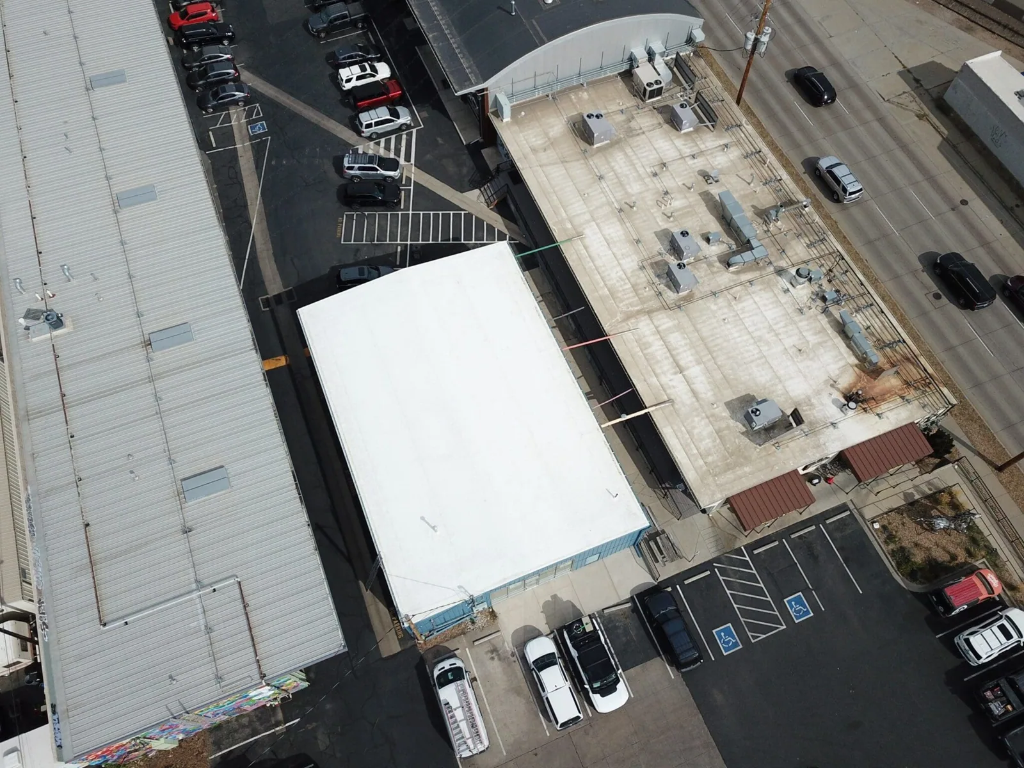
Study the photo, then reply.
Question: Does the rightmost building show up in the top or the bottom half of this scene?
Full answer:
The top half of the photo is where the rightmost building is.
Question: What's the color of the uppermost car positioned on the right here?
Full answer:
In this view, the uppermost car positioned on the right is black.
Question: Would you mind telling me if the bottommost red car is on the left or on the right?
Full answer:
The bottommost red car appears in the right half of the scene.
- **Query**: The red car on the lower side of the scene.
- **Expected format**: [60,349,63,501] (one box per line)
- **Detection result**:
[926,569,1005,621]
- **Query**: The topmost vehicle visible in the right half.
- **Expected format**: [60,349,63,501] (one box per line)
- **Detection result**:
[791,68,841,108]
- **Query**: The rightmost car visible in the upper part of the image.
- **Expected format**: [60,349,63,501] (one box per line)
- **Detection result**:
[1000,279,1024,320]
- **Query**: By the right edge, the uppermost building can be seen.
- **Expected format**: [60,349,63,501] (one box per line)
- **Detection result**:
[944,46,1024,186]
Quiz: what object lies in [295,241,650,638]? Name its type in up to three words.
building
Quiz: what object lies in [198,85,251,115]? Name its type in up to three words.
car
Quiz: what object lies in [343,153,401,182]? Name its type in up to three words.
car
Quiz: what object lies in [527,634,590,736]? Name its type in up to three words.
truck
